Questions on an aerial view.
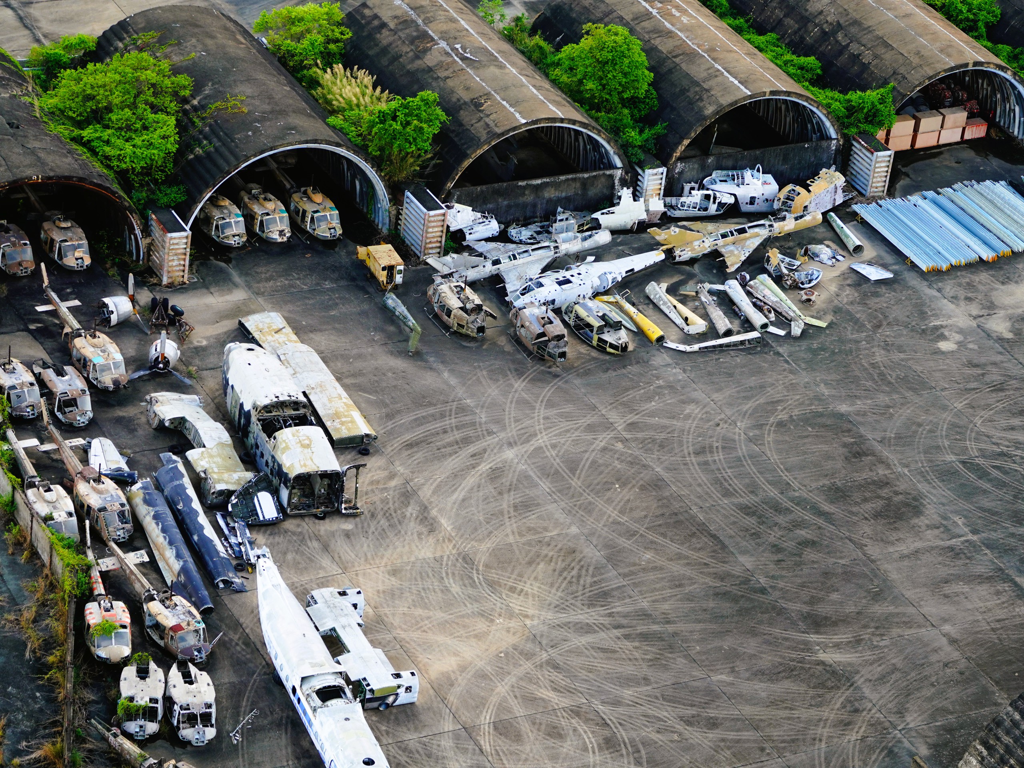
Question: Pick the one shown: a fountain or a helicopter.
helicopter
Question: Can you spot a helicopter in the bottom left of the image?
Yes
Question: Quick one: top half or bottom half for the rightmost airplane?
top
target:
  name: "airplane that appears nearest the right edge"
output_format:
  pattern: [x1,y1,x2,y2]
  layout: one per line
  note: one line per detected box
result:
[656,210,825,279]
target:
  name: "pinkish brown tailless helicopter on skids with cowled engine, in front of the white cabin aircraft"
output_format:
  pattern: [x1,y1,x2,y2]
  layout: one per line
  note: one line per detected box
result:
[493,298,570,367]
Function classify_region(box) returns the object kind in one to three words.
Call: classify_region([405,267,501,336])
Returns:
helicopter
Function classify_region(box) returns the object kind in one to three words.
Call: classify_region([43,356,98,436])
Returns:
helicopter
